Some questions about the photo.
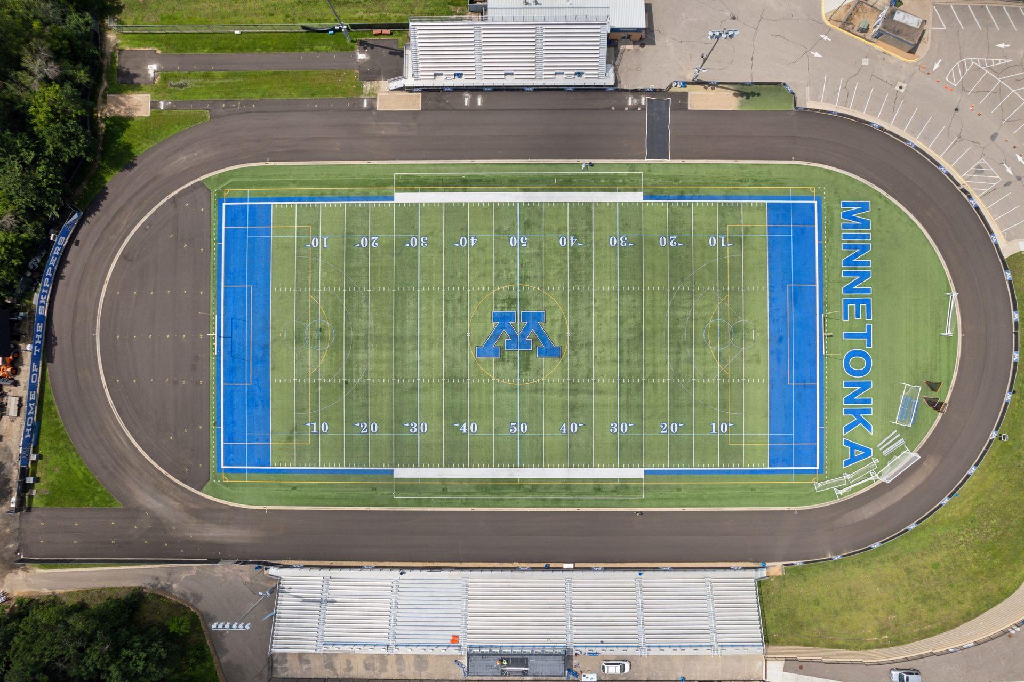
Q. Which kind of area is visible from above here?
sports ground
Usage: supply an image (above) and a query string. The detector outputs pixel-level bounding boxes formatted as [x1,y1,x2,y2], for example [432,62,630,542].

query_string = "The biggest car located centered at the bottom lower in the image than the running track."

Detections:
[601,659,629,675]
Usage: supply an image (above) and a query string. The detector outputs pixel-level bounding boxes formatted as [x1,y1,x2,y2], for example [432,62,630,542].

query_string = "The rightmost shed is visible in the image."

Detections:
[872,6,927,48]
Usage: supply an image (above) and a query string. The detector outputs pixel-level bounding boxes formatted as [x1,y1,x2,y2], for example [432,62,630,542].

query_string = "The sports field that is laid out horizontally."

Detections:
[203,164,958,505]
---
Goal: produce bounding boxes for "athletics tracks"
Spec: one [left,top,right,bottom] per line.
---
[19,109,1015,564]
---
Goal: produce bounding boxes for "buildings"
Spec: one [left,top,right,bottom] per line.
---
[488,0,646,38]
[872,6,927,48]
